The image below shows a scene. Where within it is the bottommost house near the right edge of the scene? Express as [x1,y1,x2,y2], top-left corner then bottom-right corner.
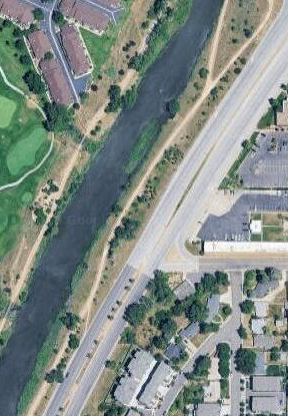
[252,394,284,412]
